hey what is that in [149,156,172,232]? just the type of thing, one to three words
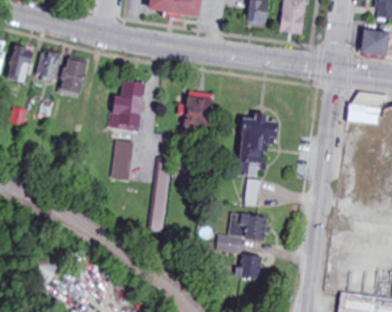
barn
